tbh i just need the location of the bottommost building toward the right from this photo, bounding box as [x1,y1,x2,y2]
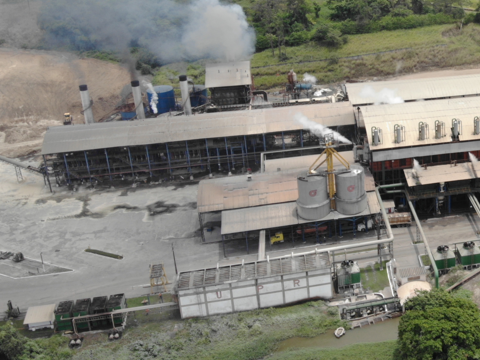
[397,264,437,321]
